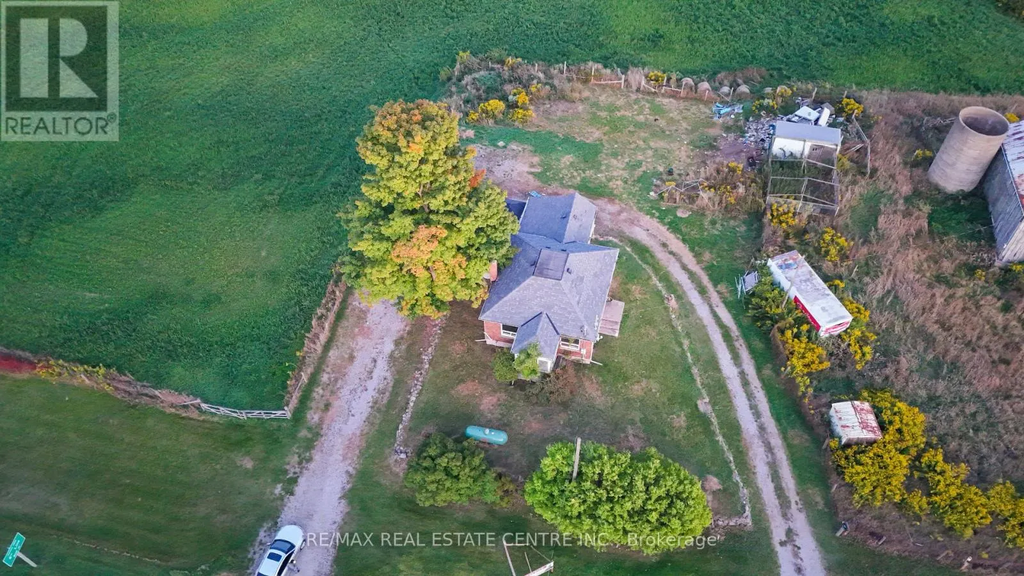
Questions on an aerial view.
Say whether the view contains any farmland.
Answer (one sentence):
Yes, some farmland is visible.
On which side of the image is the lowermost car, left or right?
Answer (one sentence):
The lowermost car sits on the left side.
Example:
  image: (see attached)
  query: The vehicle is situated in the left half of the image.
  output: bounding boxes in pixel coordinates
[251,526,303,576]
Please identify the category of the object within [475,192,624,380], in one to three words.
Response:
house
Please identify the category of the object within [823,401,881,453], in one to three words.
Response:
shed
